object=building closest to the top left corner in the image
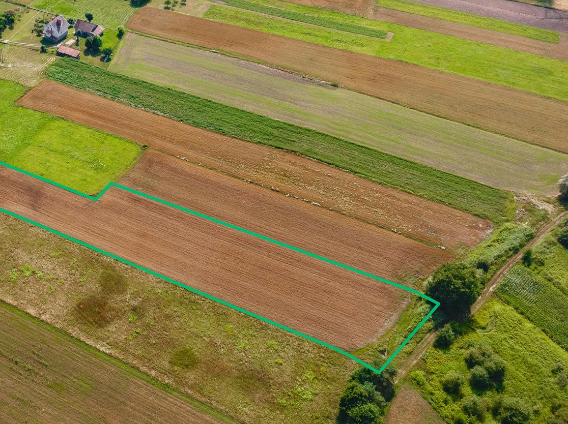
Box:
[42,15,71,42]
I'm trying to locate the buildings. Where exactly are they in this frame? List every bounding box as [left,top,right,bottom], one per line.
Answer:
[42,15,71,42]
[55,45,81,59]
[73,19,105,37]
